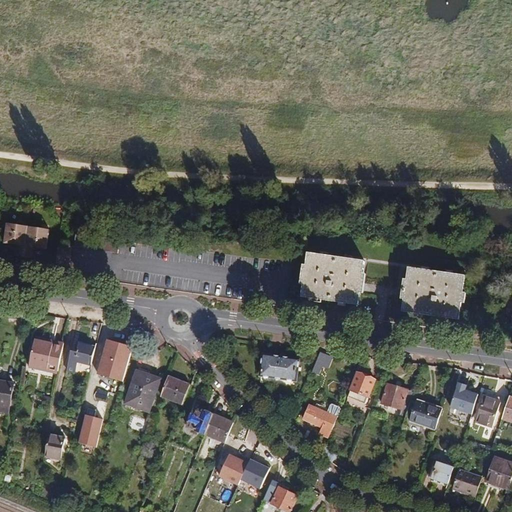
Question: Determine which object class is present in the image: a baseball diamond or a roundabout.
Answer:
roundabout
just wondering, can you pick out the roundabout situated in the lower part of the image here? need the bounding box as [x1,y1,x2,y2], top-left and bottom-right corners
[126,297,222,368]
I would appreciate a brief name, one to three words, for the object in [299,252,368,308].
building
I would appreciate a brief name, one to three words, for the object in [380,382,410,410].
house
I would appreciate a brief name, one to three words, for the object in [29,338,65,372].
house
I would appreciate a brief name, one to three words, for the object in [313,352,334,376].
shed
